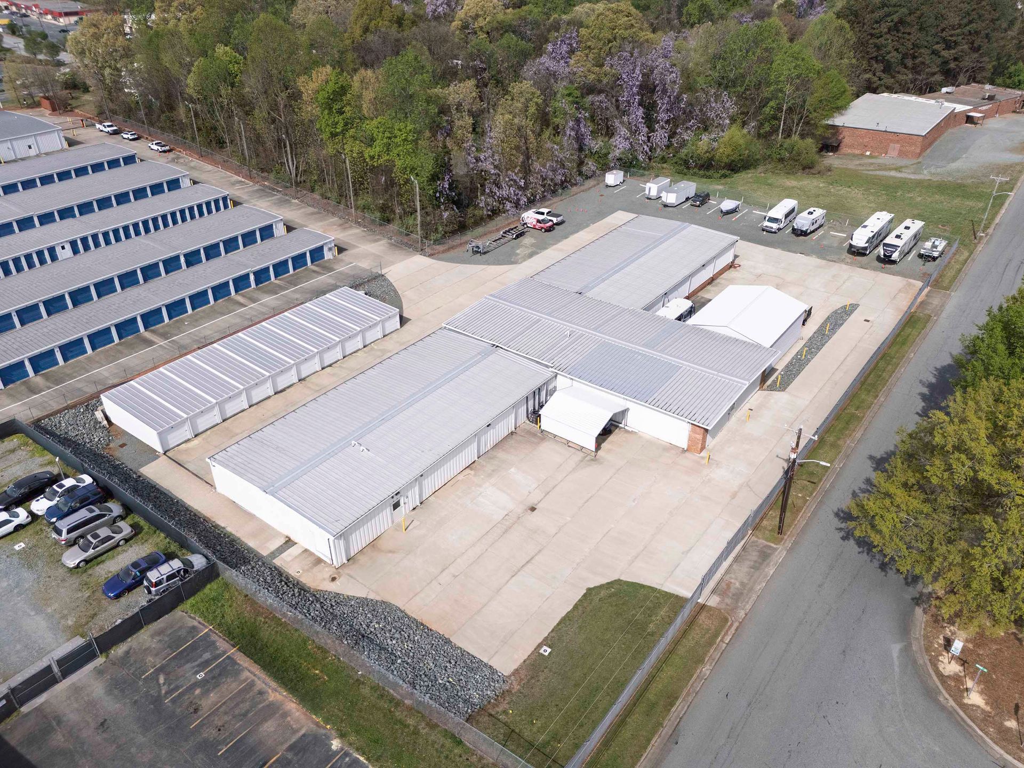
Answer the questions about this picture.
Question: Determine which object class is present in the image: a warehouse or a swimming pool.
warehouse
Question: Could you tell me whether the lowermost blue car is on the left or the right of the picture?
left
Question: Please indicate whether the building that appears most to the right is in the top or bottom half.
top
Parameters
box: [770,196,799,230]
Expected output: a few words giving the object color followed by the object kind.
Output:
white vehicle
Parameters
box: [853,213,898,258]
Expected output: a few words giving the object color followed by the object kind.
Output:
white vehicle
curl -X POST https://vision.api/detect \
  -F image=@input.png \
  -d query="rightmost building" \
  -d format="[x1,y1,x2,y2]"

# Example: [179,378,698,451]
[816,80,1024,162]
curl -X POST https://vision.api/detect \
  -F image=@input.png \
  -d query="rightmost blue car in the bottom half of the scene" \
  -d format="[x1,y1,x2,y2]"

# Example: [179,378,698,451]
[98,553,167,603]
